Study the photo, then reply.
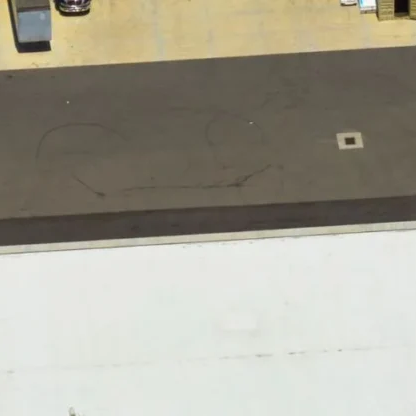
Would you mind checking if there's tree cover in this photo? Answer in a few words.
No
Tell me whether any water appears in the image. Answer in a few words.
No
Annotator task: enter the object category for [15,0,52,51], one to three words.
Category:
trailer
